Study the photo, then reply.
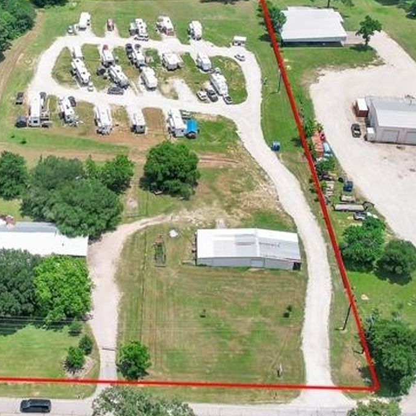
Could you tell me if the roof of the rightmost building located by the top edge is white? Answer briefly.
Yes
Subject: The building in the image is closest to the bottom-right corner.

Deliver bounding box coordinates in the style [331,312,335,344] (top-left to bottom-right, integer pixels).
[194,227,305,270]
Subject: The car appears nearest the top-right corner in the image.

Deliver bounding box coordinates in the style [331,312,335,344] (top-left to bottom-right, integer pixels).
[350,123,364,138]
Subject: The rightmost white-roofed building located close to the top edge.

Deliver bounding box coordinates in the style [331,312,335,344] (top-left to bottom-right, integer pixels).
[270,9,350,47]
